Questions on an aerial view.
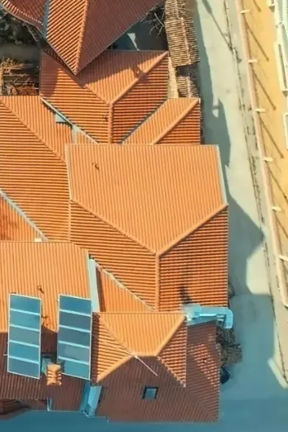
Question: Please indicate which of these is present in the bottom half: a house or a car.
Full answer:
What appears in the bottom half is a house.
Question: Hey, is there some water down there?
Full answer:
No, the scene doesn't show any water.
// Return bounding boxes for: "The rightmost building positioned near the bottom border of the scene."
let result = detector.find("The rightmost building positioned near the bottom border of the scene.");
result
[83,310,221,424]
